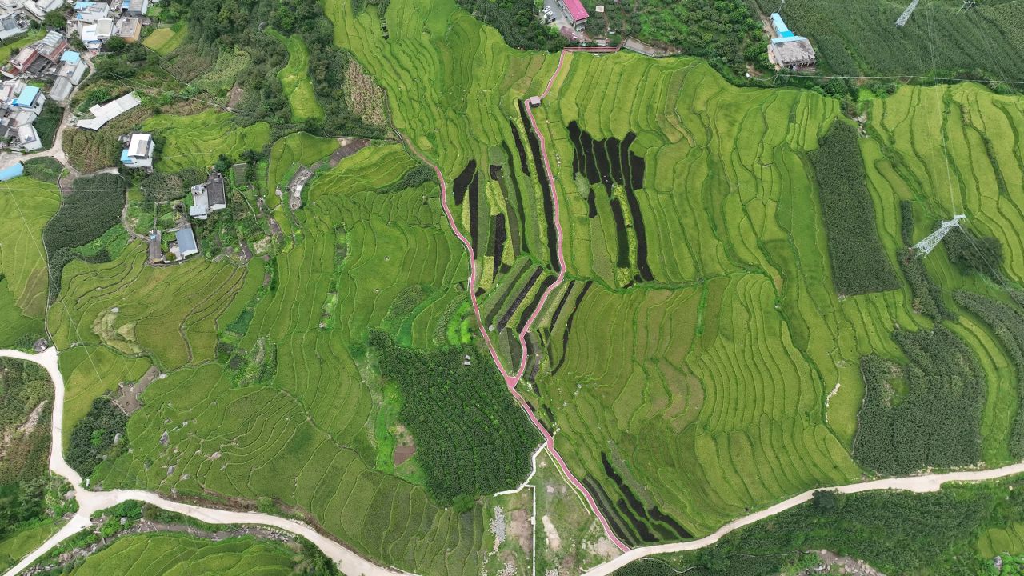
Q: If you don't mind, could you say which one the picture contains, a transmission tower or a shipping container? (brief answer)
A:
transmission tower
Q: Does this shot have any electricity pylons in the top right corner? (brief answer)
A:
Yes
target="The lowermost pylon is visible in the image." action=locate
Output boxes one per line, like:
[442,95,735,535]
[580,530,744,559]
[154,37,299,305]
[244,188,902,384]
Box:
[911,217,969,262]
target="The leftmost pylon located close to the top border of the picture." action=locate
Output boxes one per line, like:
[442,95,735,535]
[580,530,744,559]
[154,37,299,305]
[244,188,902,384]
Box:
[894,0,920,29]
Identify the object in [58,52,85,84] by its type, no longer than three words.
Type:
house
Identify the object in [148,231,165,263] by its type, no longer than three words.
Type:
barn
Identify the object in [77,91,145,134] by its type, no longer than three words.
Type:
shed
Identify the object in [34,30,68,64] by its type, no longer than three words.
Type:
house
